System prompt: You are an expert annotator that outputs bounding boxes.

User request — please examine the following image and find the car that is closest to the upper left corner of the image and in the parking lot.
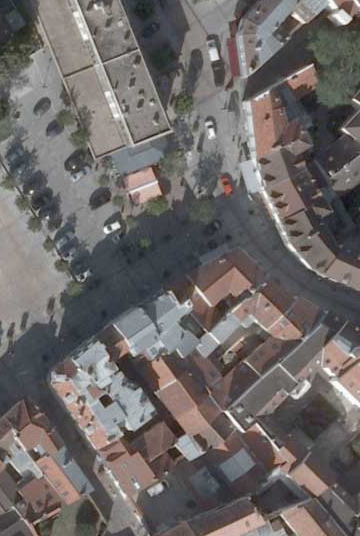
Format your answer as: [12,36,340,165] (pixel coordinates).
[33,100,49,116]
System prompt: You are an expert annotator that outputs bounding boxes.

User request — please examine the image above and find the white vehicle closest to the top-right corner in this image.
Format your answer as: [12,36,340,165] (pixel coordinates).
[206,38,219,61]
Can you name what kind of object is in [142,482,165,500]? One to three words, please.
vehicle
